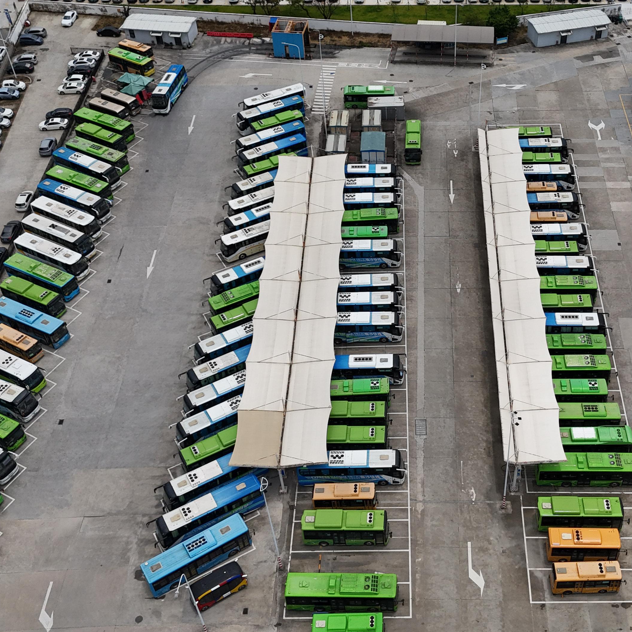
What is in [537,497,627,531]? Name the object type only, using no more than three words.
bus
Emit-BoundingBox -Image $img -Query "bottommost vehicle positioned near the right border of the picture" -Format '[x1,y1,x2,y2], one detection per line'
[551,560,627,597]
